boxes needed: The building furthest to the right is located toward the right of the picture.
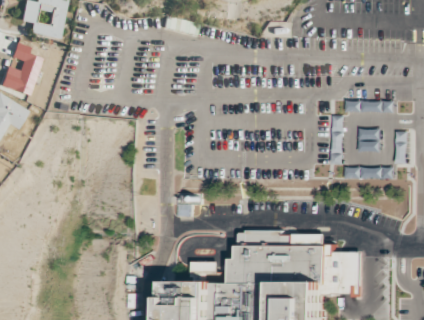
[394,130,409,164]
